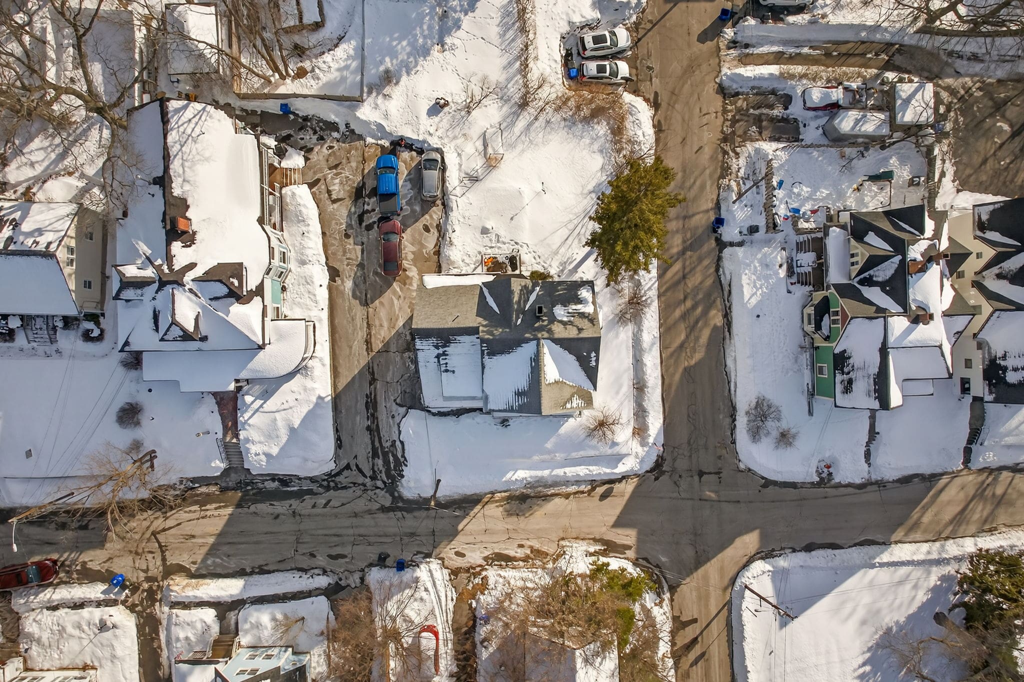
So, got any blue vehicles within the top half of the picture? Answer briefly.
Yes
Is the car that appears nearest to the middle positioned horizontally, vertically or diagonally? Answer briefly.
vertically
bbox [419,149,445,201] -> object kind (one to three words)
car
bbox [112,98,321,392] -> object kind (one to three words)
house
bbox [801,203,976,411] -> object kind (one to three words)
building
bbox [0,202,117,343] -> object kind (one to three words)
house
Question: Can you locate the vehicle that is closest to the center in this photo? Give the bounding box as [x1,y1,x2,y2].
[376,220,403,277]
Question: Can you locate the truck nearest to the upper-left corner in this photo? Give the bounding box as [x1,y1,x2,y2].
[371,152,399,220]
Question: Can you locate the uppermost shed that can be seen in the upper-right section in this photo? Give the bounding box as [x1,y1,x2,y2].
[889,82,935,127]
